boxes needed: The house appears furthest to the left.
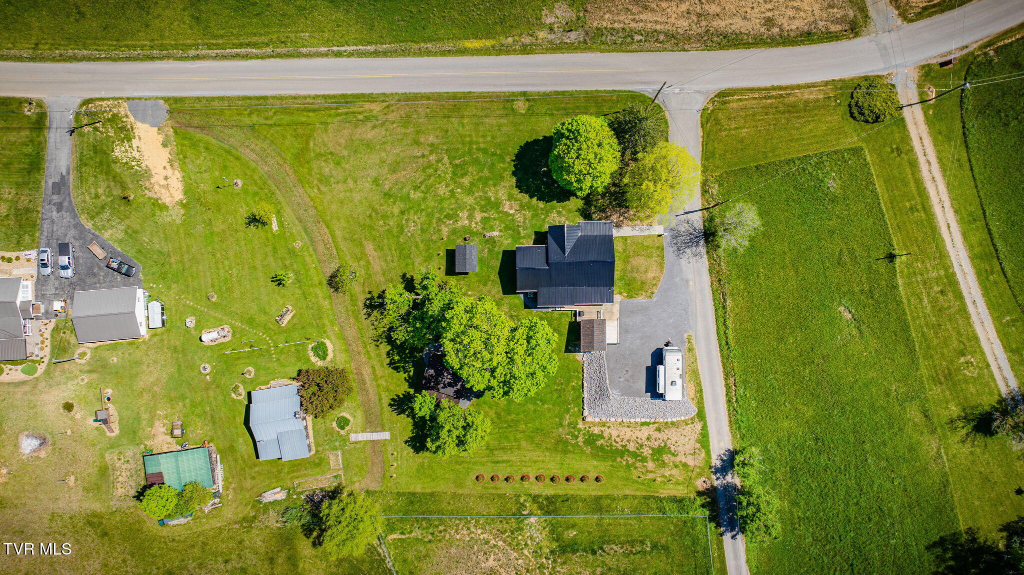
[0,277,44,360]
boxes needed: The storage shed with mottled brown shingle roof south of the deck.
[581,319,607,352]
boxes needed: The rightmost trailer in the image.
[657,339,682,400]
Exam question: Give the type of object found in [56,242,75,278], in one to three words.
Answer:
vehicle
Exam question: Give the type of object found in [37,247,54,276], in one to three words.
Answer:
car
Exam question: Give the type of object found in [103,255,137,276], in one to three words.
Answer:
truck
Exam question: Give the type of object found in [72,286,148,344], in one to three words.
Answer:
building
